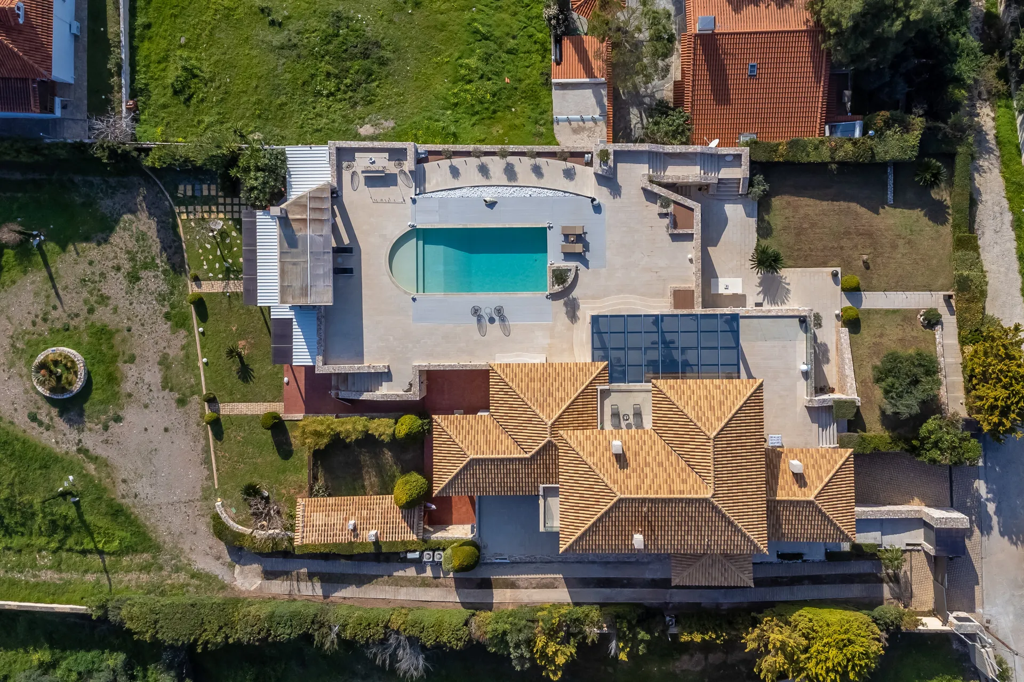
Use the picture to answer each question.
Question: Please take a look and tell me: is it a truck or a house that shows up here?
house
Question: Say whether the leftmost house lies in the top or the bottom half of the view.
top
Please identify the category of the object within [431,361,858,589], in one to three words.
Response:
house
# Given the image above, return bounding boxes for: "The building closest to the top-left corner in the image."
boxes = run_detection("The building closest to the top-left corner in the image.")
[0,0,81,124]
